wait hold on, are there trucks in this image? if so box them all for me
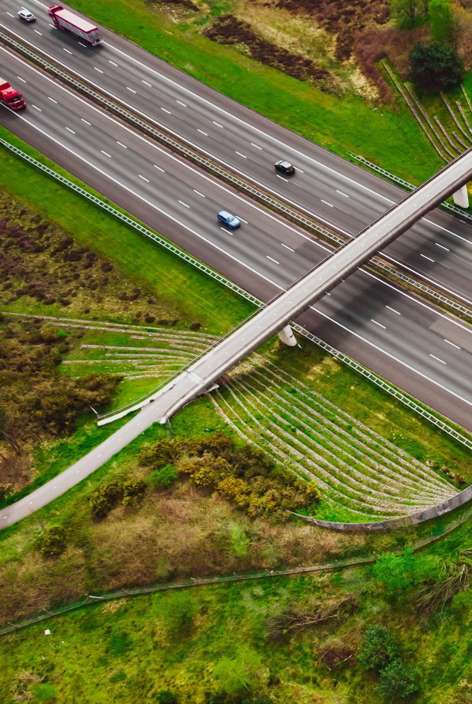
[49,7,105,46]
[0,79,27,111]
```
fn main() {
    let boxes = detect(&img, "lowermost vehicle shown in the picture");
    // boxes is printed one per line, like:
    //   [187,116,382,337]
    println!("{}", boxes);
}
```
[217,212,242,231]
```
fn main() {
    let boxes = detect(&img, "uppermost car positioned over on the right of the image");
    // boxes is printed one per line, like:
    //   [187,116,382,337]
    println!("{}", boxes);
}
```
[274,162,296,176]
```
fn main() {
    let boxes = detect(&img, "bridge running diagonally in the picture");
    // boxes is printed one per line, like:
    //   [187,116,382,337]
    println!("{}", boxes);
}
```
[92,147,472,429]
